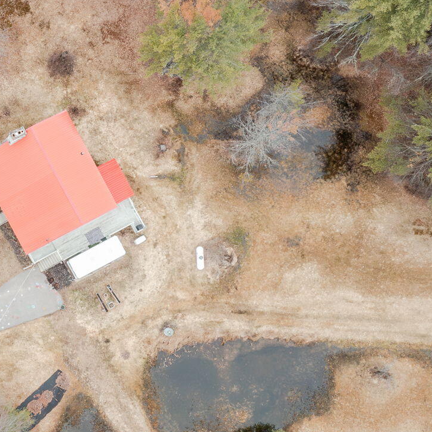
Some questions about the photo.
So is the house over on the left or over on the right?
left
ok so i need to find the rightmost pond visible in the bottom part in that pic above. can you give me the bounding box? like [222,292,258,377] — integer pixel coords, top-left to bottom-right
[145,339,432,432]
